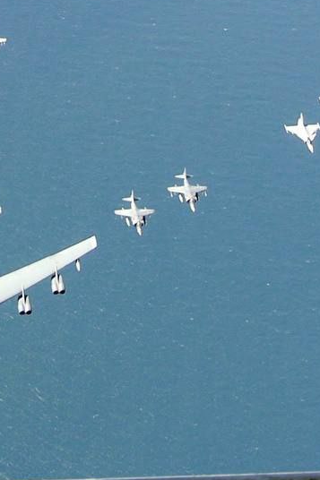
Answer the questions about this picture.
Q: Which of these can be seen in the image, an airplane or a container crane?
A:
airplane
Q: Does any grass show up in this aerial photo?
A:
No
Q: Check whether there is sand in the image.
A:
No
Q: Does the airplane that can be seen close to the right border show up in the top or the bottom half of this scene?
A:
top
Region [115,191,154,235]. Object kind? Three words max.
airplane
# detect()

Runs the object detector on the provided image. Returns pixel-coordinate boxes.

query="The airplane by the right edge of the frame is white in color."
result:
[284,112,320,152]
